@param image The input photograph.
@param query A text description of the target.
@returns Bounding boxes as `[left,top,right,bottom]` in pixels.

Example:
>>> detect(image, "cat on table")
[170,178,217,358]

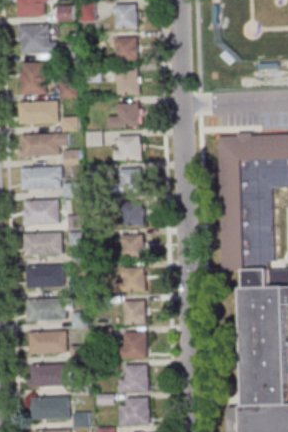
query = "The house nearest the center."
[120,202,146,226]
